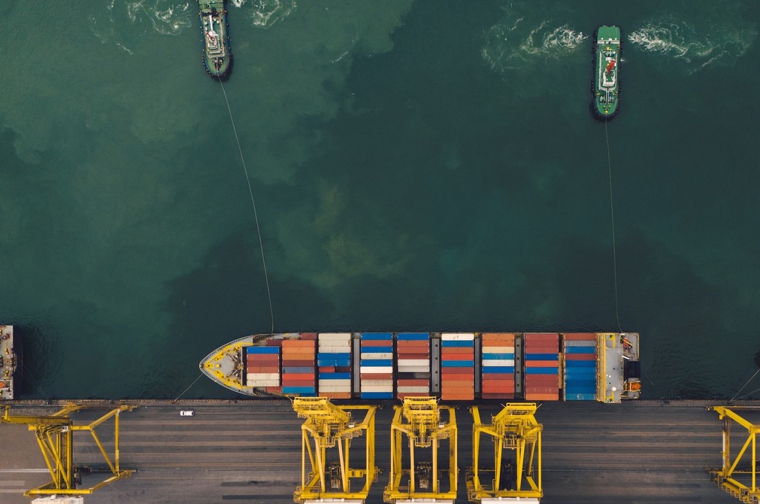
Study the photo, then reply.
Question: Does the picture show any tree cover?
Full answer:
No, there's no tree cover in this view.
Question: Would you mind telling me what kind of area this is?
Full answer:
What you see here is a port.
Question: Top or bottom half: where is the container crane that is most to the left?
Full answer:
The container crane that is most to the left is in the bottom half of the image.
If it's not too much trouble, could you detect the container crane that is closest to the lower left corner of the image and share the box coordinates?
[0,405,133,504]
